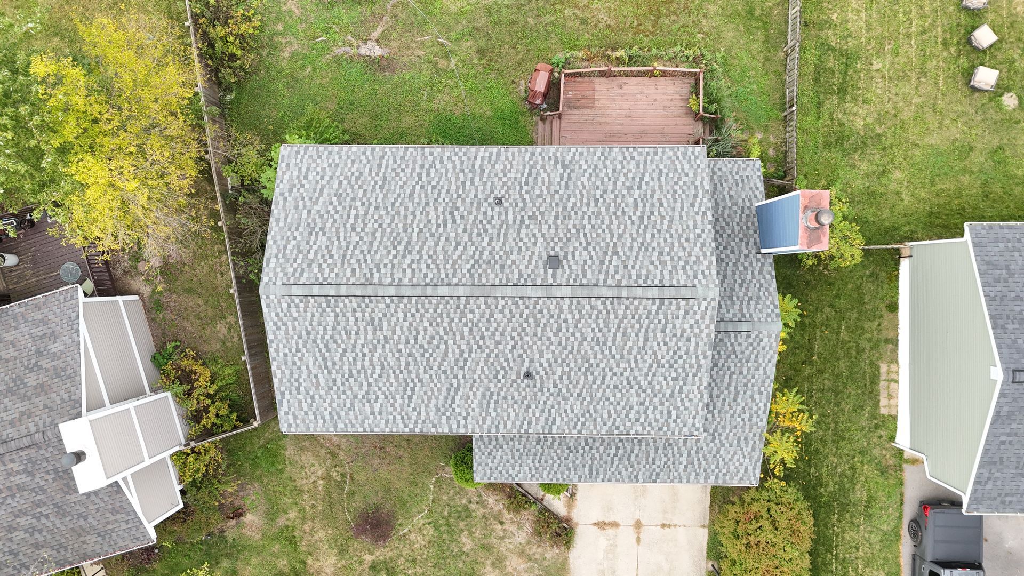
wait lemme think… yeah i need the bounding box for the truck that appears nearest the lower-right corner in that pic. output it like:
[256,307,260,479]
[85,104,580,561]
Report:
[903,496,986,576]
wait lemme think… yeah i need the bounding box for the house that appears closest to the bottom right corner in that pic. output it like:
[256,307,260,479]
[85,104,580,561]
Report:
[883,220,1024,517]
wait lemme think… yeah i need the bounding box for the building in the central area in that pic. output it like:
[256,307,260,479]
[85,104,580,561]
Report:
[260,142,835,489]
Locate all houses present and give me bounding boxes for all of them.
[883,220,1024,517]
[0,283,200,576]
[260,142,835,489]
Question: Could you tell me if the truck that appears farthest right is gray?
Yes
